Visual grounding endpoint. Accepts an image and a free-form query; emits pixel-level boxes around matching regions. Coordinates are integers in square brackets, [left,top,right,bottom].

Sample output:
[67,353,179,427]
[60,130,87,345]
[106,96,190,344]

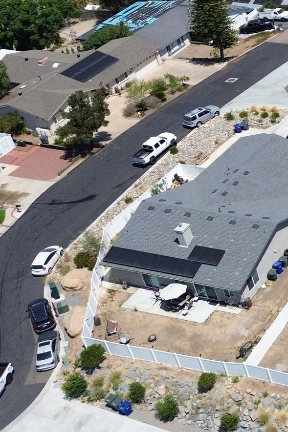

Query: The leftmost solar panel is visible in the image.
[65,54,116,79]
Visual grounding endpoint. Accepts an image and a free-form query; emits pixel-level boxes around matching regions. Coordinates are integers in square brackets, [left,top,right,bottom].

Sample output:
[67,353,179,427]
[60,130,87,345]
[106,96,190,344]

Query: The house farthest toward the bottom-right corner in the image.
[99,130,288,311]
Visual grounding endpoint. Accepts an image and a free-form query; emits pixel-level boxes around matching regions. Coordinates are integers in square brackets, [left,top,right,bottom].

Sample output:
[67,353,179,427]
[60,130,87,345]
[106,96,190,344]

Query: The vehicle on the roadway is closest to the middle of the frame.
[129,135,179,167]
